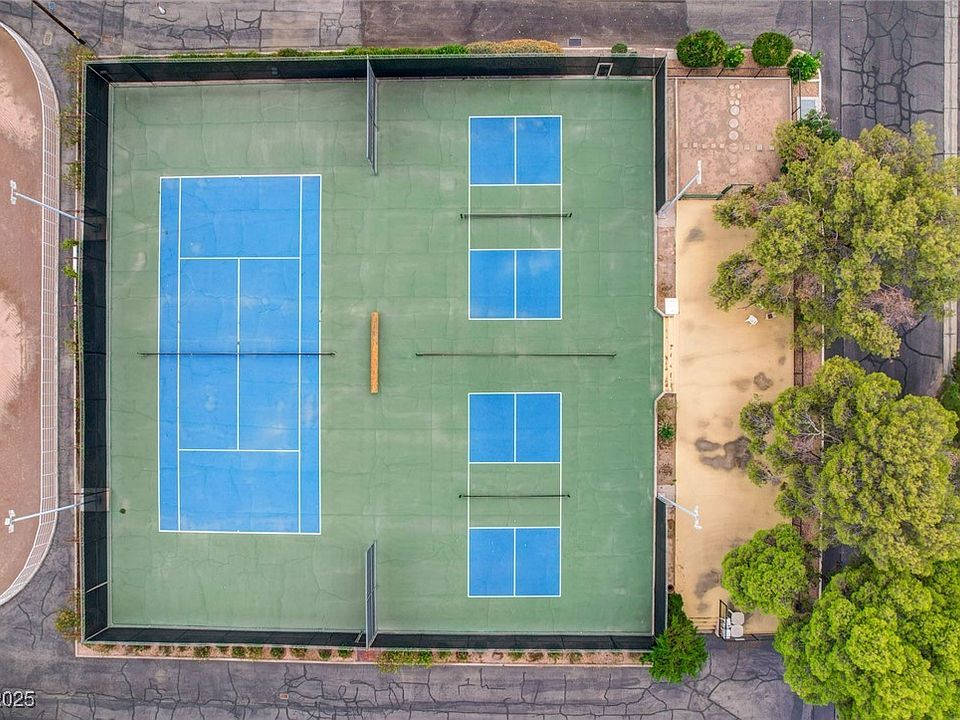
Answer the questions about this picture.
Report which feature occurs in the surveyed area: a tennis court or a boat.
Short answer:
tennis court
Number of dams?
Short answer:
0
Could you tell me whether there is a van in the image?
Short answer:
No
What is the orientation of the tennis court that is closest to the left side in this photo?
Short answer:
from top to bottom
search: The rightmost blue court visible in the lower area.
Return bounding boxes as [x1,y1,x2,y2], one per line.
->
[468,392,562,599]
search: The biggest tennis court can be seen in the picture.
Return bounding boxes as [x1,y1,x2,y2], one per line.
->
[158,174,321,534]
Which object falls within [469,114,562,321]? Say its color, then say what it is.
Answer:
blue sports court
